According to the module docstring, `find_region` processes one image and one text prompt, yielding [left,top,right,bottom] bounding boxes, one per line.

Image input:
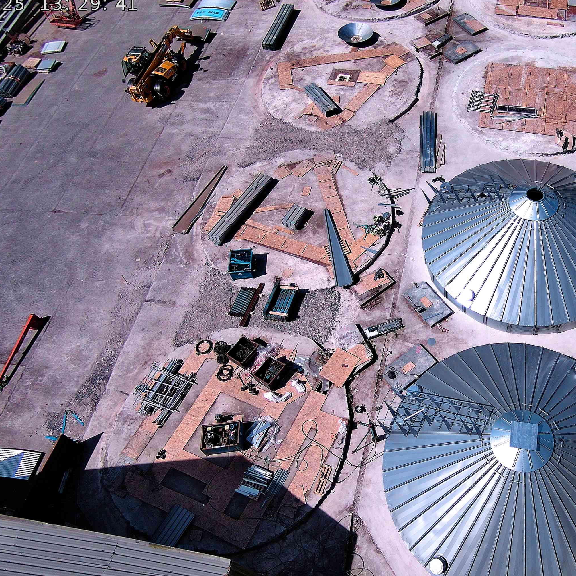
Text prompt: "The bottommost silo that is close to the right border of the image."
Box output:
[372,342,576,576]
